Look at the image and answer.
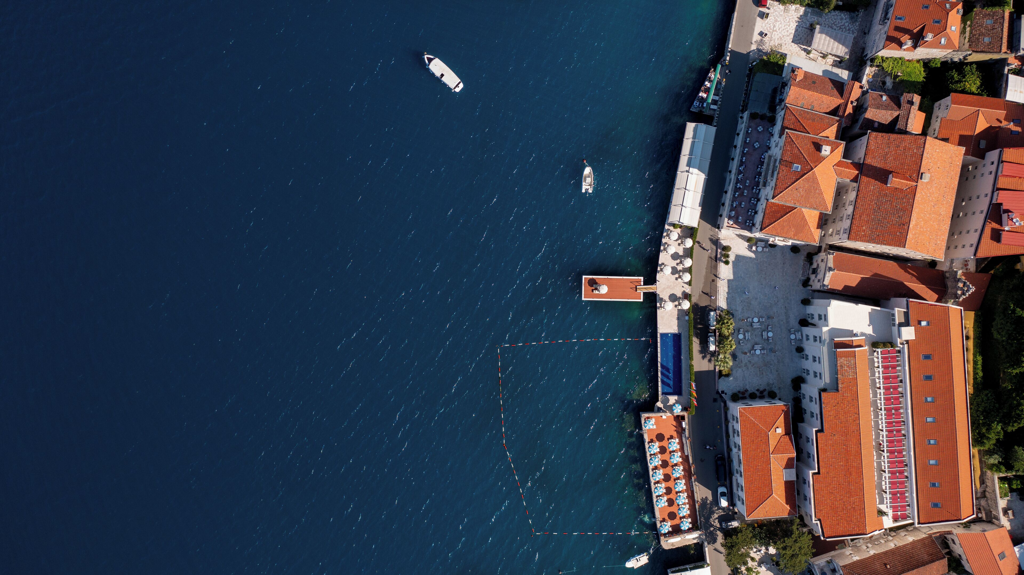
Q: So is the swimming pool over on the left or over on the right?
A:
right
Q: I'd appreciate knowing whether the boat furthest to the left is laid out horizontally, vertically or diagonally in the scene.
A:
diagonally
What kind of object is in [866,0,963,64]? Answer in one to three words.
house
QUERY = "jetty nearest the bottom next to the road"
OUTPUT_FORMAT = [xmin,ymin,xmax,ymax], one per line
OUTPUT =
[640,413,701,536]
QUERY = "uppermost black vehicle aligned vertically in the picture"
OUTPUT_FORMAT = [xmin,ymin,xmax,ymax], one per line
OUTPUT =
[715,452,727,476]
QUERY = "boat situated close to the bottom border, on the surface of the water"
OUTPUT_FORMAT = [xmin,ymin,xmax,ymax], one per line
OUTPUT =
[625,553,649,569]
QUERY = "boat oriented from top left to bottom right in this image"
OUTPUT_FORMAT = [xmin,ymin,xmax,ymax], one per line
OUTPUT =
[424,55,465,95]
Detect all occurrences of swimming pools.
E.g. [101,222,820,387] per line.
[659,330,683,396]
